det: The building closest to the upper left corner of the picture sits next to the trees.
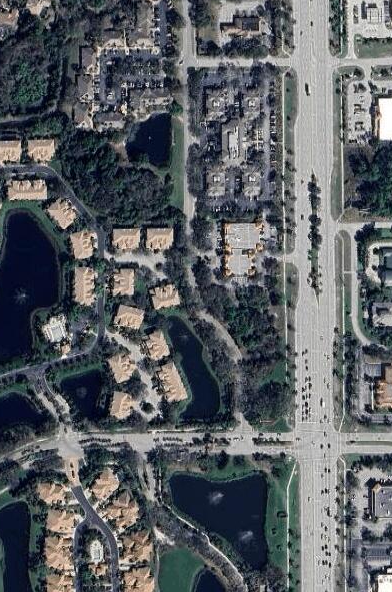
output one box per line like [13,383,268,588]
[0,8,20,29]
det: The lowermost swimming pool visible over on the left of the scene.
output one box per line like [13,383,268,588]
[90,540,104,562]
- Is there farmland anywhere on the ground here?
No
